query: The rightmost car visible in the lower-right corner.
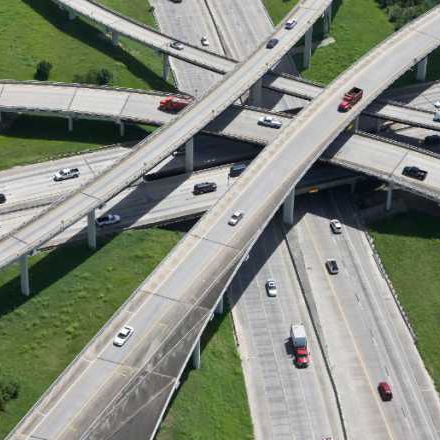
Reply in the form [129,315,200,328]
[378,381,392,402]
